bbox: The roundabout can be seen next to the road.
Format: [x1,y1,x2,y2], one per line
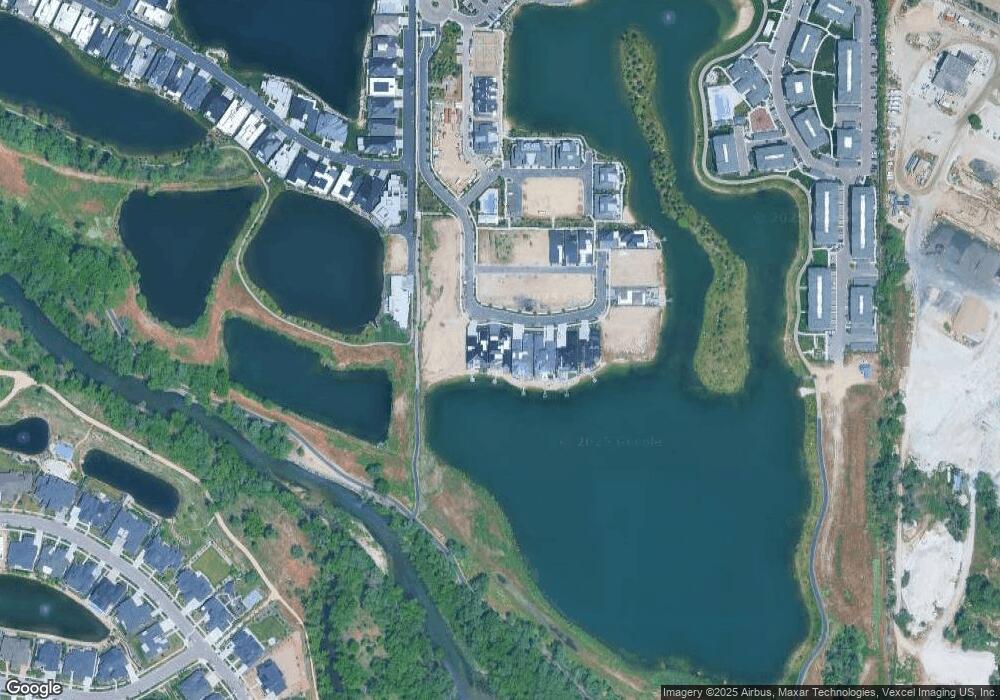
[417,0,454,23]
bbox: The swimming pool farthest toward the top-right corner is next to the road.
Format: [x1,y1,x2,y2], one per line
[708,86,745,125]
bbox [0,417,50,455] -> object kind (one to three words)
pond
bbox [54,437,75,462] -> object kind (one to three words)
swimming pool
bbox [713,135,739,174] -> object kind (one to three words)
building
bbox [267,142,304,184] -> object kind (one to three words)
house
